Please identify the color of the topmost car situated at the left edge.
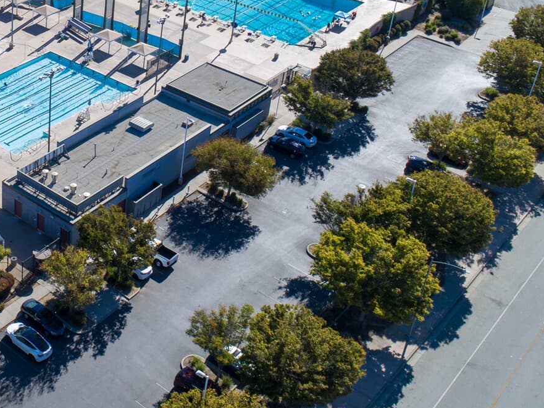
black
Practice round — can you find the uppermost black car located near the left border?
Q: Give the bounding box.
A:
[22,296,71,333]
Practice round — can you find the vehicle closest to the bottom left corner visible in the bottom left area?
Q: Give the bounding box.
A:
[5,318,56,357]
